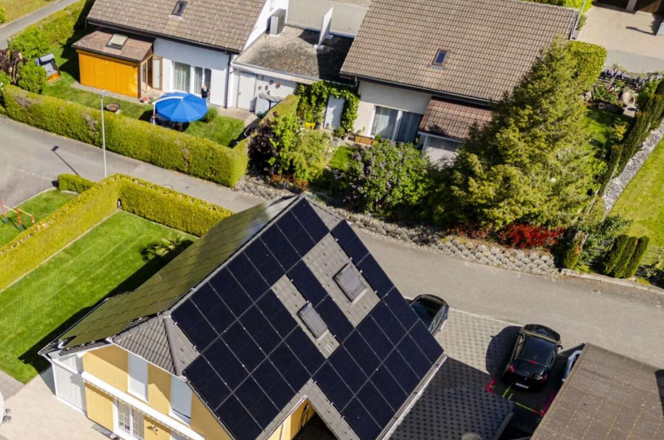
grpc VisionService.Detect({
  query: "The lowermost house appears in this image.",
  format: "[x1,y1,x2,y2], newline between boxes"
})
[34,194,447,440]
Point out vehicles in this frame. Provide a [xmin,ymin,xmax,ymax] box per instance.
[502,323,567,393]
[412,284,464,341]
[554,341,586,398]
